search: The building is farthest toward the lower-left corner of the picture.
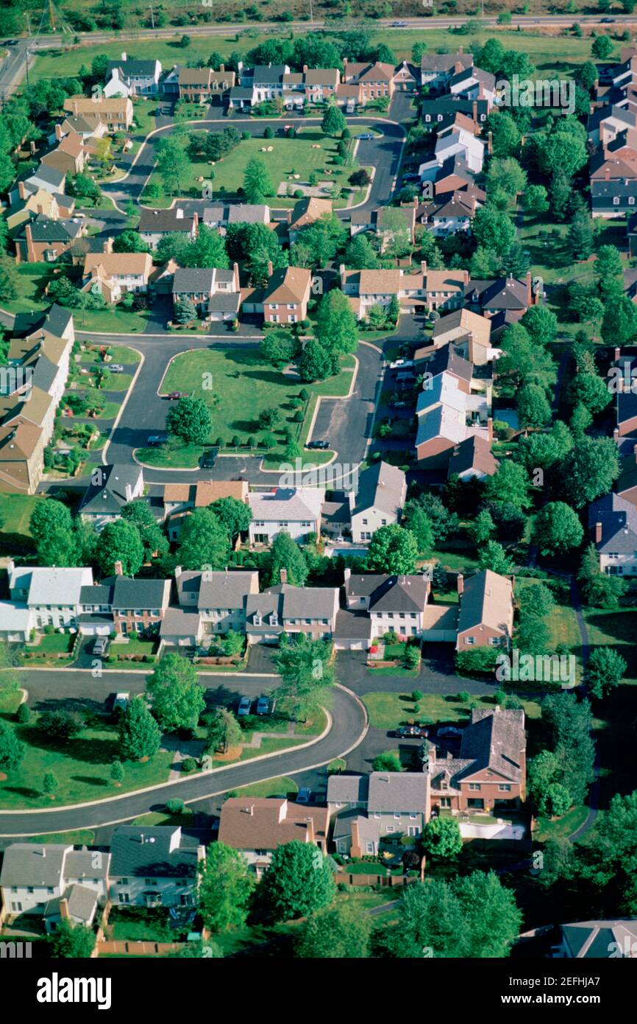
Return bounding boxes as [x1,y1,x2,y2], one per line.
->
[0,841,112,939]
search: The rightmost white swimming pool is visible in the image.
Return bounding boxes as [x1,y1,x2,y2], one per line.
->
[460,820,526,838]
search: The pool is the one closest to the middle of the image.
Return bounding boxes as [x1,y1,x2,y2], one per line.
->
[338,545,373,558]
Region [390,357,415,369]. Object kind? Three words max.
vehicle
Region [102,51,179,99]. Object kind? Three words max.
house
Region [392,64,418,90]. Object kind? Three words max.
house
